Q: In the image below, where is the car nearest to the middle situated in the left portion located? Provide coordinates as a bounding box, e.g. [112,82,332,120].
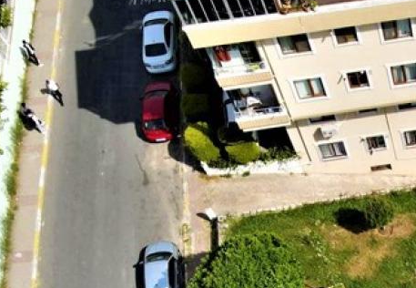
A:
[136,82,178,148]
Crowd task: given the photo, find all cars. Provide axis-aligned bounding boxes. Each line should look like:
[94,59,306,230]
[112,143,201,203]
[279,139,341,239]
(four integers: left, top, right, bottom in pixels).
[139,240,183,288]
[136,82,178,148]
[139,13,180,79]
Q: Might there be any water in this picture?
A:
No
